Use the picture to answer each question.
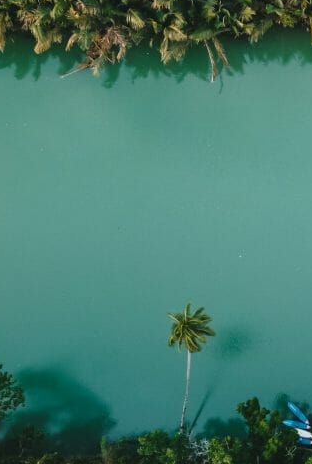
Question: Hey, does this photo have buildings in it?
No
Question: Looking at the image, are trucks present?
No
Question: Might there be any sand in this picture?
No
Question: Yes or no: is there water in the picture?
Yes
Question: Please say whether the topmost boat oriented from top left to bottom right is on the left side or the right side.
right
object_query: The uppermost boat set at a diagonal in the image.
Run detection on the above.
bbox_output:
[287,402,308,424]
